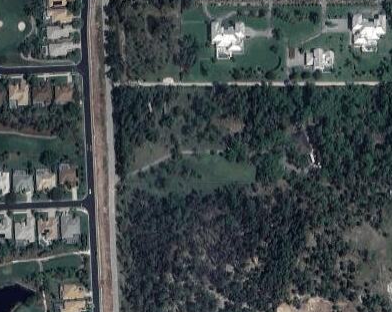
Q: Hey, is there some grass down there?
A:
Yes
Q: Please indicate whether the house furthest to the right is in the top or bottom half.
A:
top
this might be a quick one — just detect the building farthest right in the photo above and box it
[351,14,387,44]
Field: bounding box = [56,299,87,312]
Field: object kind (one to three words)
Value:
house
